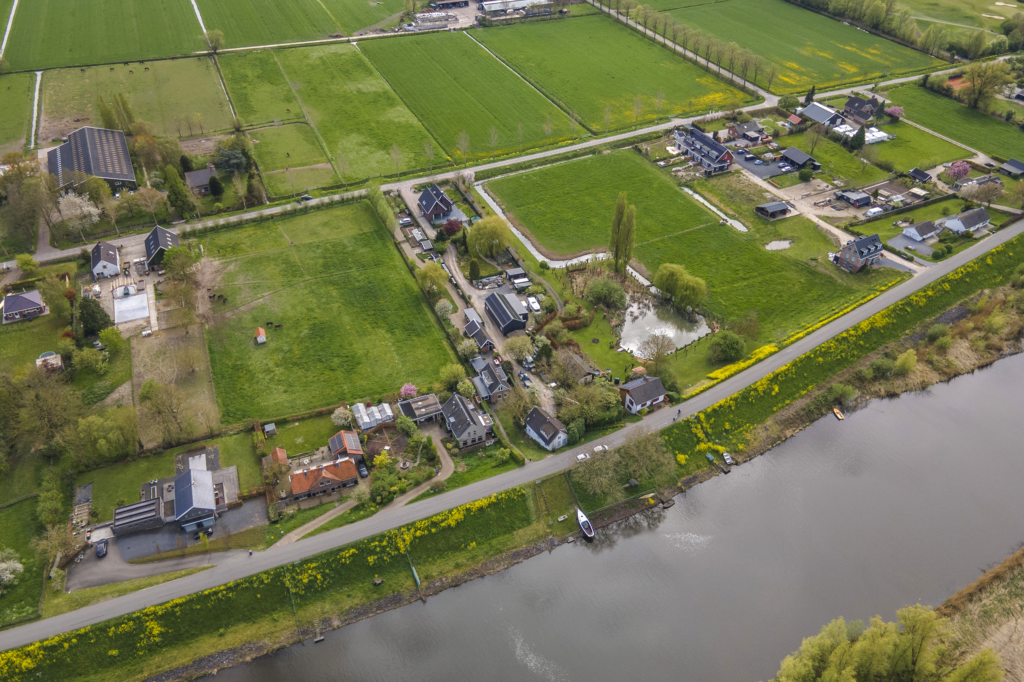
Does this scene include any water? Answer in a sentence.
Yes, water can be seen from above here.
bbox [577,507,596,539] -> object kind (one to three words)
boat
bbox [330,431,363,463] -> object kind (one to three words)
barn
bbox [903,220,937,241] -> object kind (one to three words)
building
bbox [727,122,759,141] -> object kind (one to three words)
house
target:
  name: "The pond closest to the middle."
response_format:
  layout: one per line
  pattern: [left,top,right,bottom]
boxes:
[620,300,711,360]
